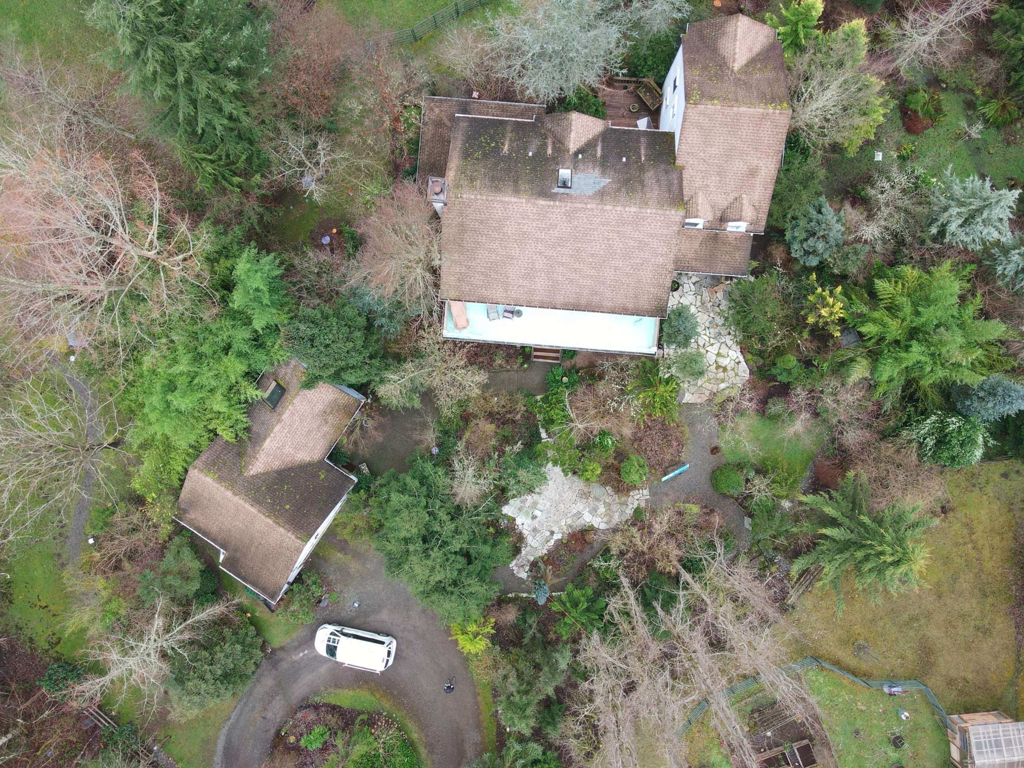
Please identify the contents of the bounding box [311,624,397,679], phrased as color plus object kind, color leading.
white car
